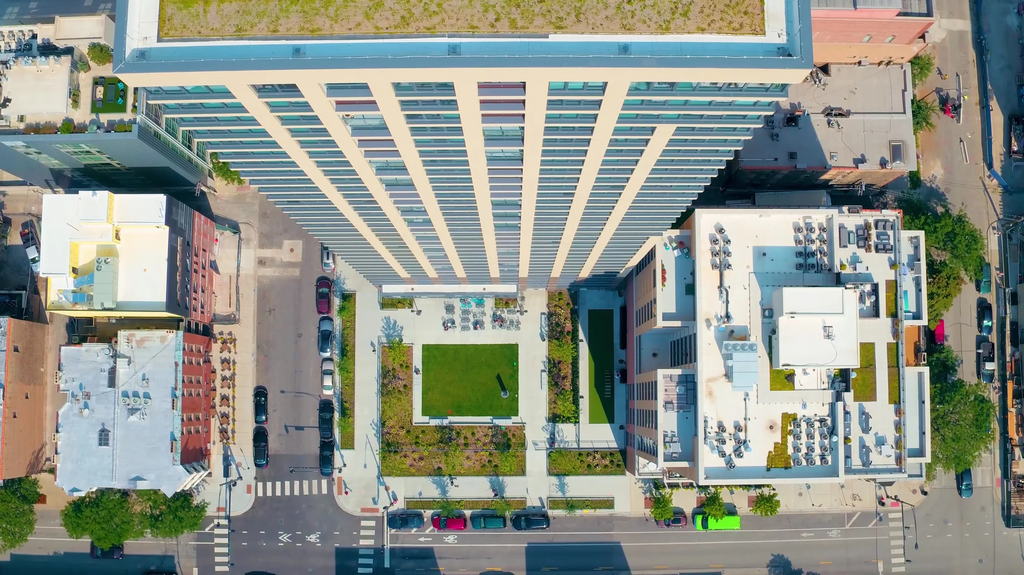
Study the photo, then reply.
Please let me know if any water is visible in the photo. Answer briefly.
No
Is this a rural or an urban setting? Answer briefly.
urban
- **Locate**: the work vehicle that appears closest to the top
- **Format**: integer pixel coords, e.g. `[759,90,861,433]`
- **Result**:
[937,97,959,117]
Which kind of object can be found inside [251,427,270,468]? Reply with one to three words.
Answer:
car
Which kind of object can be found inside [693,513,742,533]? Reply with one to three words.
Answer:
vehicle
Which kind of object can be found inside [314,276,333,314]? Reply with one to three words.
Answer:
car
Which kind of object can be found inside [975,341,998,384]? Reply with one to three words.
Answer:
truck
